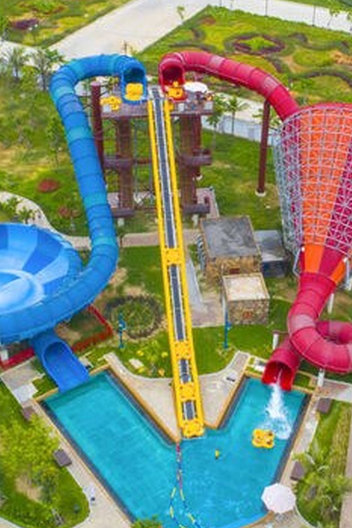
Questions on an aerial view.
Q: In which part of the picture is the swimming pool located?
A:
bottom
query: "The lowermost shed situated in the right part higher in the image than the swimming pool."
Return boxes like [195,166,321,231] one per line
[223,272,268,319]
